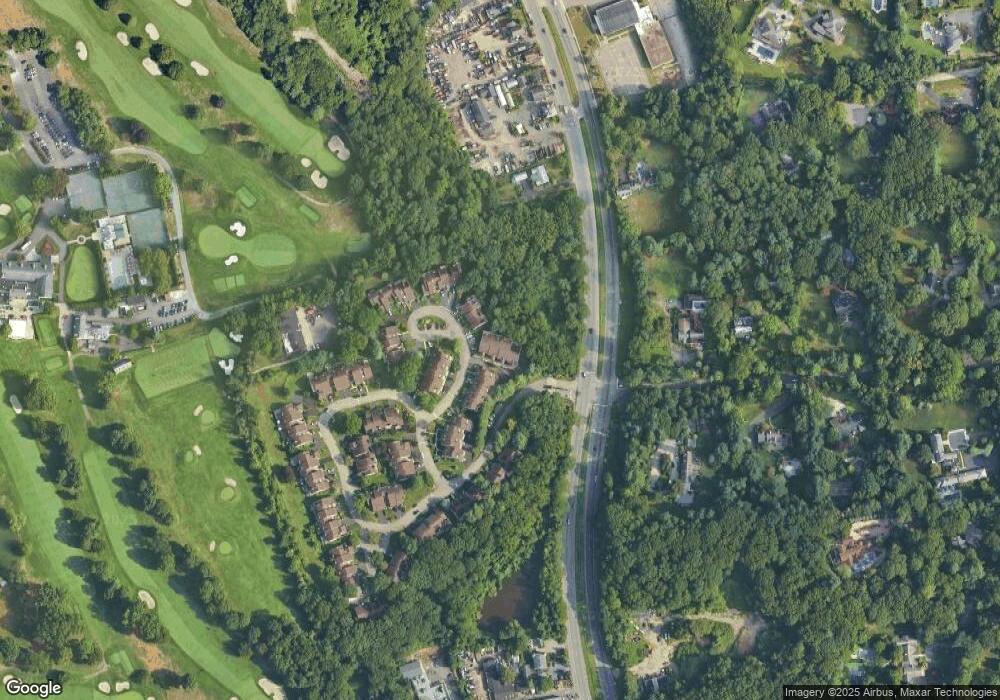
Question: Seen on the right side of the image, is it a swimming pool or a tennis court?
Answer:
swimming pool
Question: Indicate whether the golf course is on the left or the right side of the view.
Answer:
left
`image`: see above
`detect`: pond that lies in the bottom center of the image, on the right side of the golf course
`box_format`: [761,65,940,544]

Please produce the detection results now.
[482,552,546,628]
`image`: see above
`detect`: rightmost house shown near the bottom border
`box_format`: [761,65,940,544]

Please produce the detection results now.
[899,638,925,690]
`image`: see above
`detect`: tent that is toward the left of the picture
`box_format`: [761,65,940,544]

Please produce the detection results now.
[8,319,27,337]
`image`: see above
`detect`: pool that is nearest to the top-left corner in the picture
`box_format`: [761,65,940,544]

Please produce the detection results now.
[103,246,141,293]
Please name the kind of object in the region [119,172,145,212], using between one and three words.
tennis court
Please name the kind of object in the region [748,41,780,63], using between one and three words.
swimming pool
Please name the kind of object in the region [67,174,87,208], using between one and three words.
tennis court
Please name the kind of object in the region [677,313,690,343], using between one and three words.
barn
